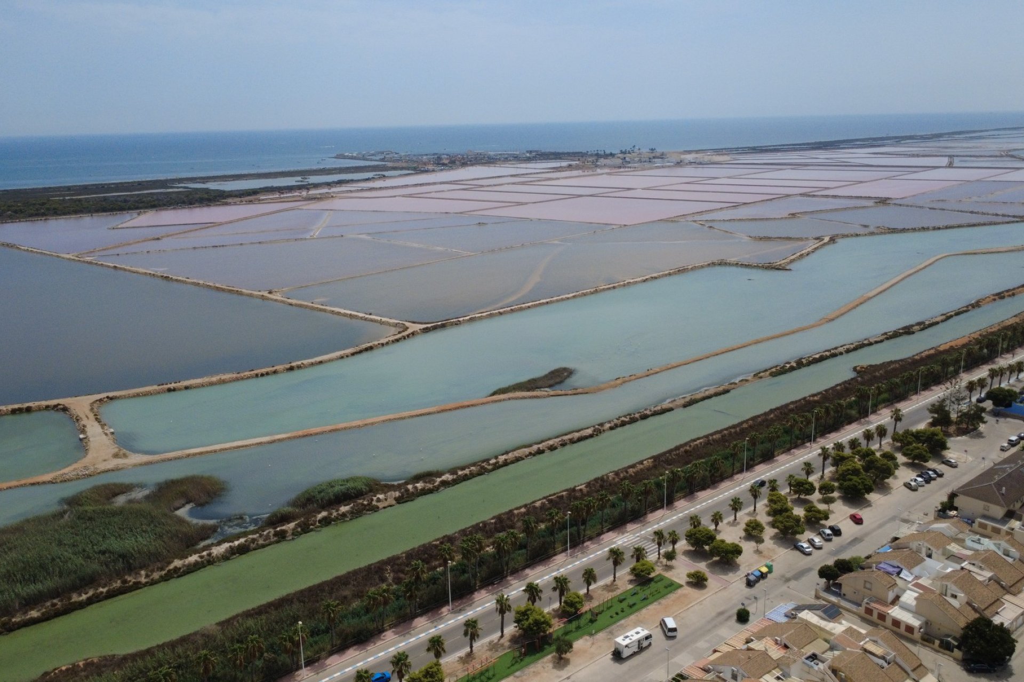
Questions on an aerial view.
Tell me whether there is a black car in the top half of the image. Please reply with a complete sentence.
No, I can find no black car in the top half of the image.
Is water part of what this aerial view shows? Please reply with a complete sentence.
Yes, some water is visible.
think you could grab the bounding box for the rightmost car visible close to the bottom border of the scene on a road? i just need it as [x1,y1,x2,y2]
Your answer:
[961,659,996,681]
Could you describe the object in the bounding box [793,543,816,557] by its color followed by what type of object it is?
gray car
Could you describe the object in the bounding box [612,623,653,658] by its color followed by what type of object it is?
white camper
